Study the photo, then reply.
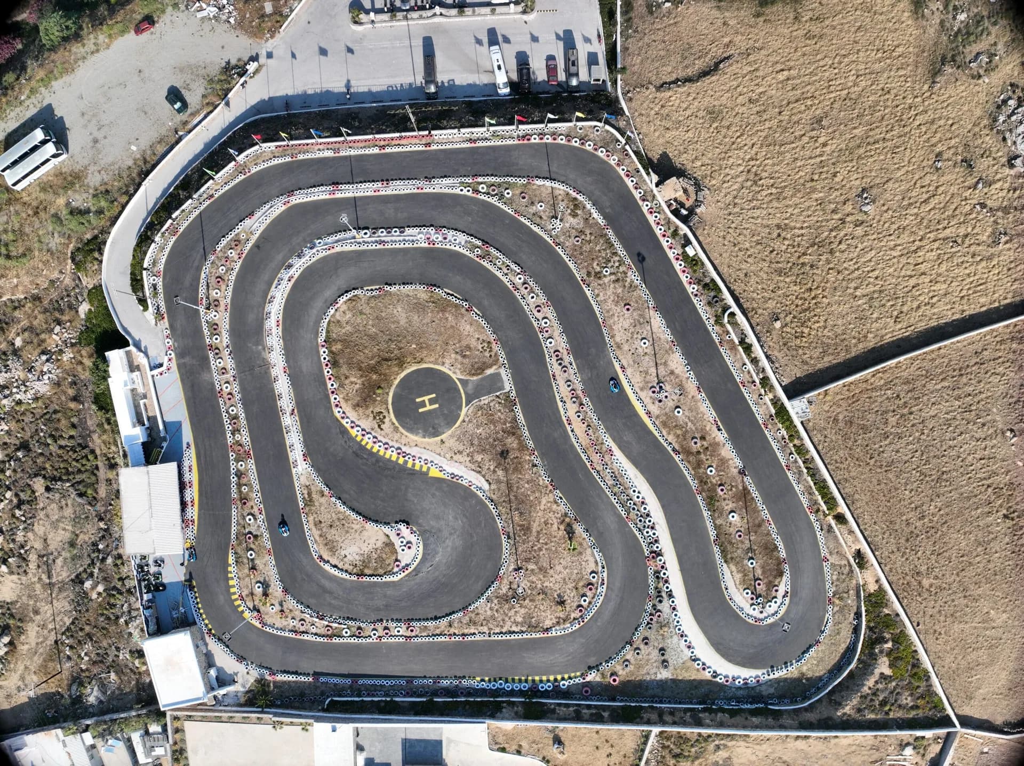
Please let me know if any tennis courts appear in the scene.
No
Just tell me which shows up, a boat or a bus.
bus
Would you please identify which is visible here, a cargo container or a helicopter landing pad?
helicopter landing pad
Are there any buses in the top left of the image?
Yes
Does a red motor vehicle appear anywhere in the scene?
Yes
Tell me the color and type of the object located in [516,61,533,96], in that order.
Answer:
black car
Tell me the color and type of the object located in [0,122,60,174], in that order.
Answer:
white bus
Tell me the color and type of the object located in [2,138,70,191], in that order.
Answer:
white bus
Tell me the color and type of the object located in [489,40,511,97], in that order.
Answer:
white vehicle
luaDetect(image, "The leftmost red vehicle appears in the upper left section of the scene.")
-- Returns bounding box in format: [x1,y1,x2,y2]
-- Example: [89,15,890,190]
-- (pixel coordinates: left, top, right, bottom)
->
[133,17,157,37]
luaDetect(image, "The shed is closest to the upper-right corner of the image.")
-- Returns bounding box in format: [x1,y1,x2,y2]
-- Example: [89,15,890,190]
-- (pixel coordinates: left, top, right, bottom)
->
[657,176,683,205]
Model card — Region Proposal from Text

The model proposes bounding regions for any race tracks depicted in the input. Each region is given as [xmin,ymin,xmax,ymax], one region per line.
[162,142,827,678]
